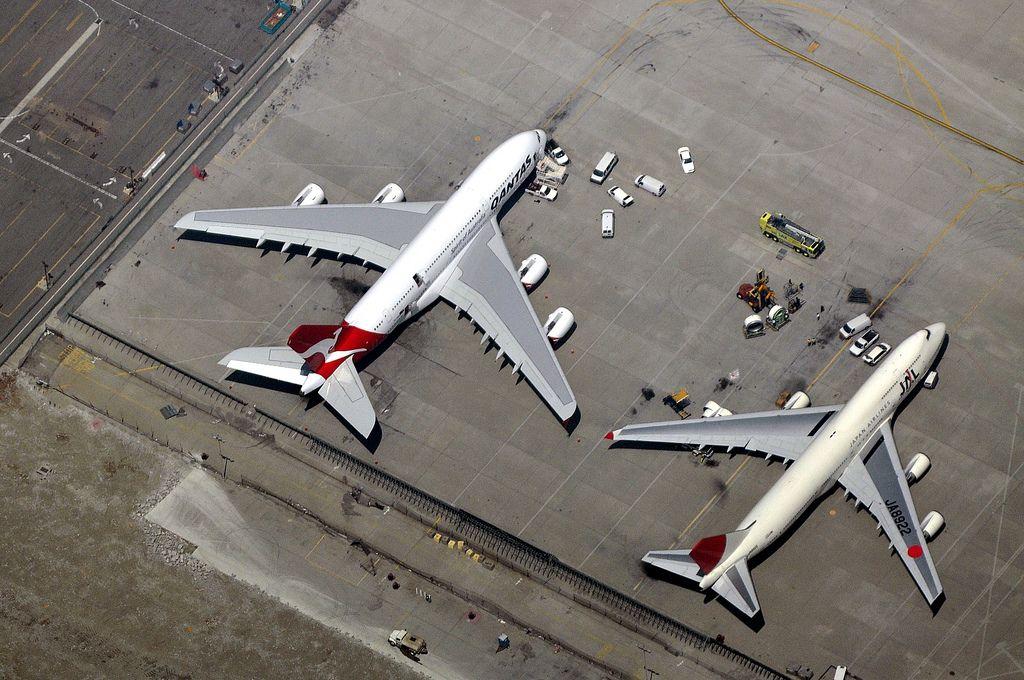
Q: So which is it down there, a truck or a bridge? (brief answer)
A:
truck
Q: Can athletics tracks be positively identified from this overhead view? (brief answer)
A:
No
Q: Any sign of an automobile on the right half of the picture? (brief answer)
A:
Yes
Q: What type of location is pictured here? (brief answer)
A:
airport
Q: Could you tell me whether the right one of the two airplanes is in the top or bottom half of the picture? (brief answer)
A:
bottom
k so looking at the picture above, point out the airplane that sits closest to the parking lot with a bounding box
[170,131,578,440]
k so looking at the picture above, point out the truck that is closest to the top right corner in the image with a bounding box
[758,213,826,260]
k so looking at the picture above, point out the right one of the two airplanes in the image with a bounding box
[606,323,947,620]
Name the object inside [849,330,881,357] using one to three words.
truck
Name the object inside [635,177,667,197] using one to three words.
vehicle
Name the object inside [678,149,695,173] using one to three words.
car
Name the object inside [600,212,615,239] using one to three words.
vehicle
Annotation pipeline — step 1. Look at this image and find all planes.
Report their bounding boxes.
[606,323,947,620]
[170,131,578,440]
